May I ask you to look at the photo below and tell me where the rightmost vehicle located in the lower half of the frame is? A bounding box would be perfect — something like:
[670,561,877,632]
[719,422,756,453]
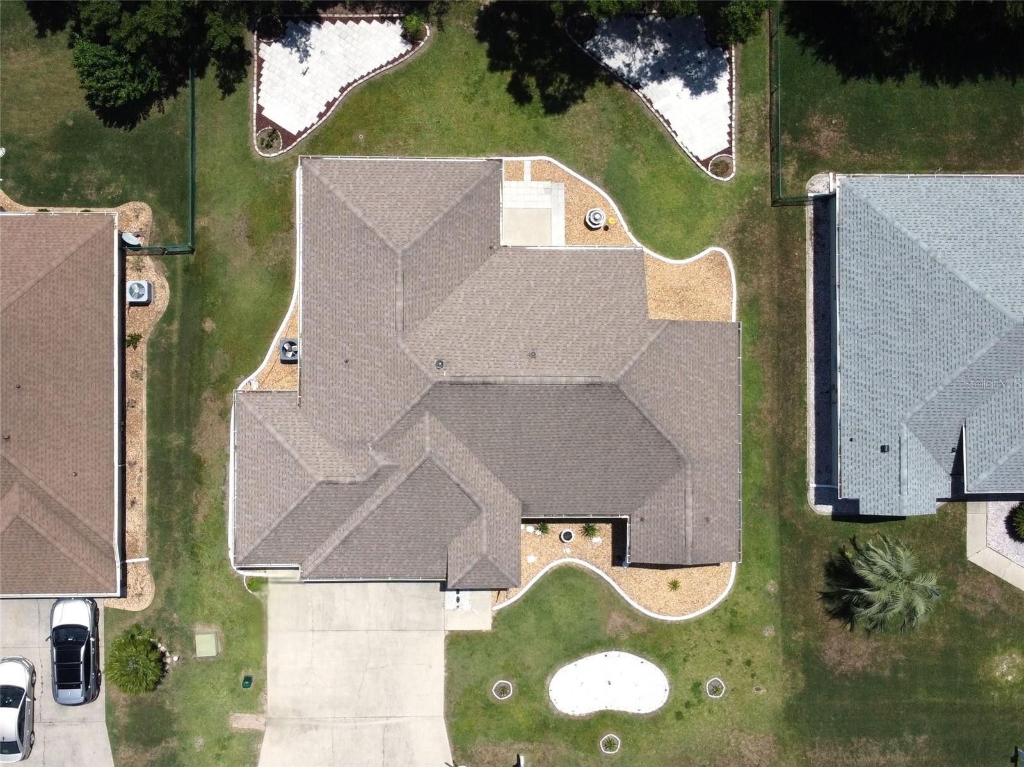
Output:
[45,598,101,706]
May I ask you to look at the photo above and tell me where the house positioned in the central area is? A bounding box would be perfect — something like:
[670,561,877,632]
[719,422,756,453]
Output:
[232,156,744,591]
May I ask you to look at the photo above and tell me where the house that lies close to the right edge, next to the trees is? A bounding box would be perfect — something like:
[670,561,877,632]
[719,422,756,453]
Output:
[811,173,1024,515]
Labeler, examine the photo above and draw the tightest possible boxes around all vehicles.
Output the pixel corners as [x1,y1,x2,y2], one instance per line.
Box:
[45,598,101,706]
[0,656,37,762]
